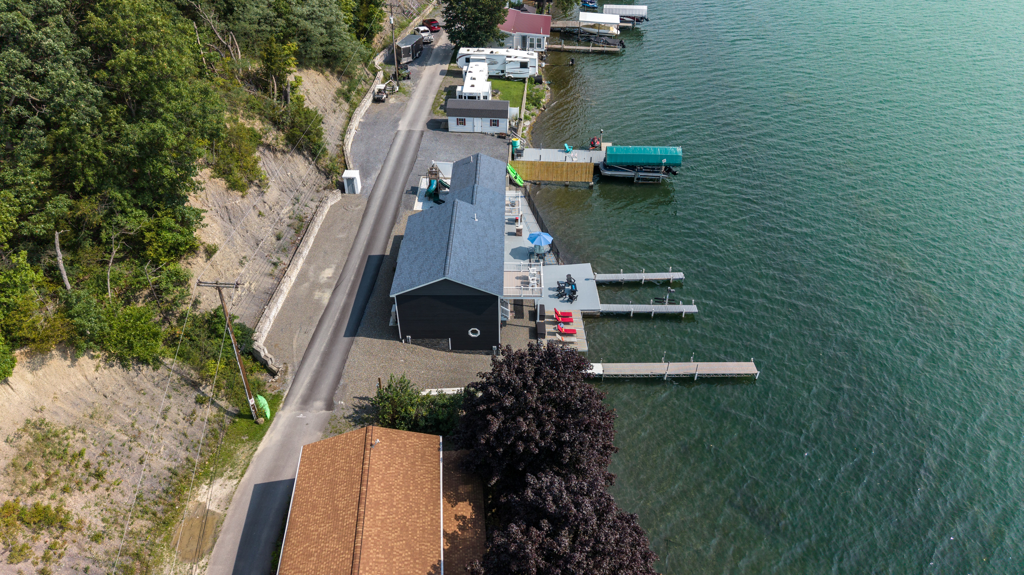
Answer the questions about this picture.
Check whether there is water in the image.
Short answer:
Yes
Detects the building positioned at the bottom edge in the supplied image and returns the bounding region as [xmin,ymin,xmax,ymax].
[276,425,490,575]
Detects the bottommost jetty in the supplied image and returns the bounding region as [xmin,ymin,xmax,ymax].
[574,351,760,381]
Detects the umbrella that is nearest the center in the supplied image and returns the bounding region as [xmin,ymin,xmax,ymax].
[527,231,553,249]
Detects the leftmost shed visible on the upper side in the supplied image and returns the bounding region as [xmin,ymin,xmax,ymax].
[341,167,361,194]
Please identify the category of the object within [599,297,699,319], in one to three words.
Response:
pier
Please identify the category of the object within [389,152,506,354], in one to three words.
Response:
house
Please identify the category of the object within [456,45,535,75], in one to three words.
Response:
camper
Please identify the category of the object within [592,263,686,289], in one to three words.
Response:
pier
